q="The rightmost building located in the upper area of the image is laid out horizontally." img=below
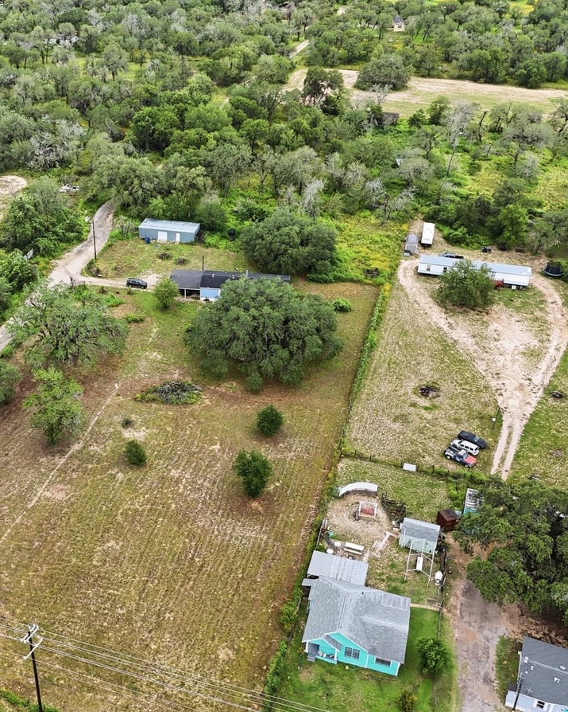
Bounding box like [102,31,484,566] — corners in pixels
[416,255,531,289]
